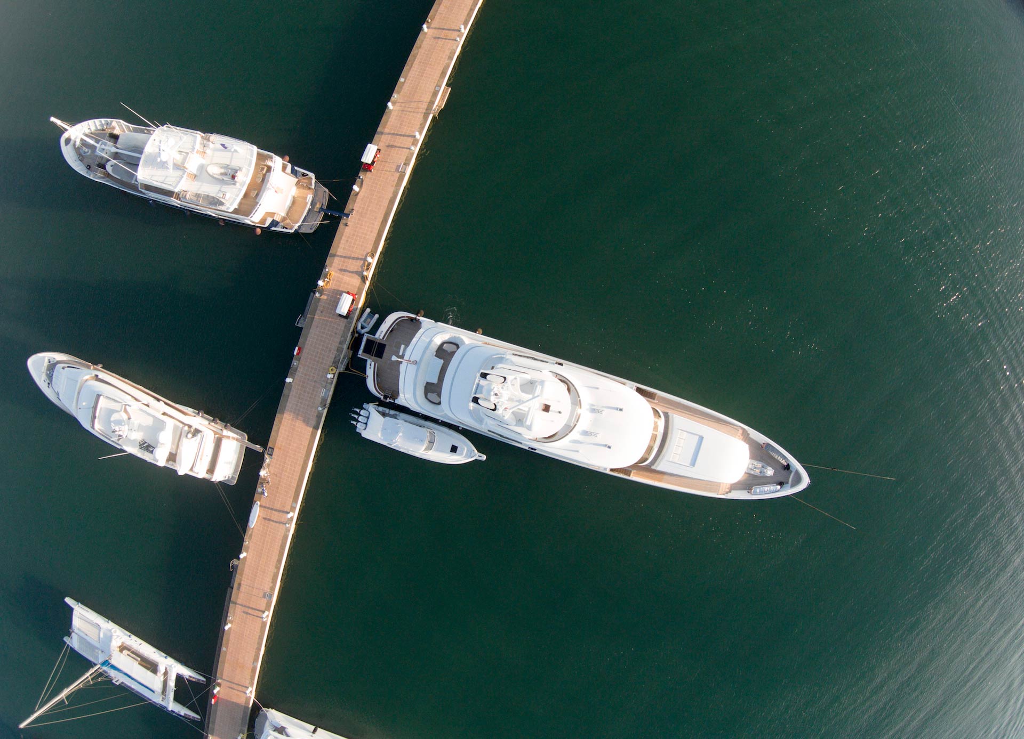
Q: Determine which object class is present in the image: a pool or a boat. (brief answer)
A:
boat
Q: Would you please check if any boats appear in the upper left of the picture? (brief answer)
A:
Yes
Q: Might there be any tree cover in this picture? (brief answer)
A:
No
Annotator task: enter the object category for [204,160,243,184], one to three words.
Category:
boat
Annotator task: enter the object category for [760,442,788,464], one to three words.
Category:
boat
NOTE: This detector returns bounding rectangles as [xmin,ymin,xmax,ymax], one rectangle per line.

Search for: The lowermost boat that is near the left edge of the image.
[17,595,208,723]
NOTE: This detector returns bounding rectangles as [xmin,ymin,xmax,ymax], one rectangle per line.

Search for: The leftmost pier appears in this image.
[201,564,239,739]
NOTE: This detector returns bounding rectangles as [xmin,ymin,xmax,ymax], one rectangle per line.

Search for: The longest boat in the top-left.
[50,103,350,236]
